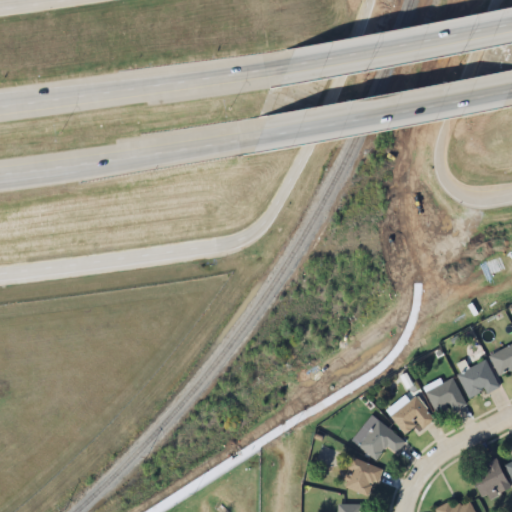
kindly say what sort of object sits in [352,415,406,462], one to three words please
house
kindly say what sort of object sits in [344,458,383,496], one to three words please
house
